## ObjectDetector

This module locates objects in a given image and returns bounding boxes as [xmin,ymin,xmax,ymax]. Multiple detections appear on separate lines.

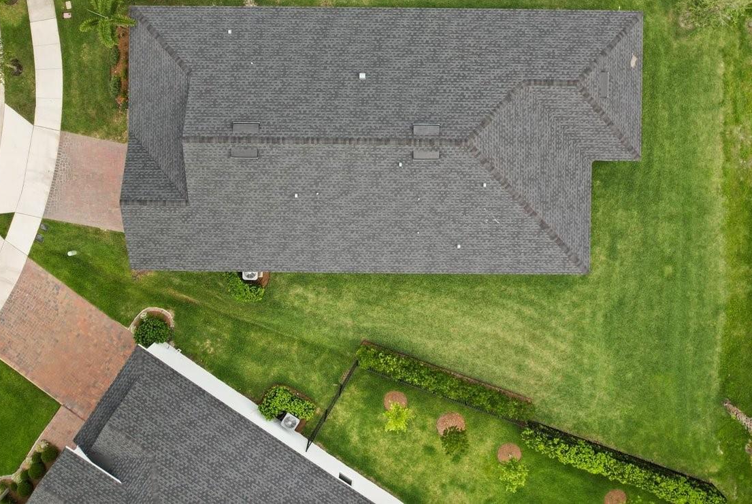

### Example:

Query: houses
[23,341,405,504]
[118,4,645,275]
